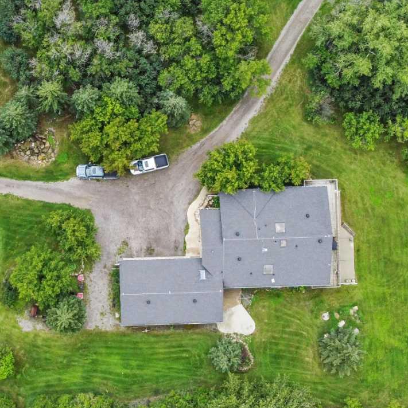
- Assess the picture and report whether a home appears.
Yes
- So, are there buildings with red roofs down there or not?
No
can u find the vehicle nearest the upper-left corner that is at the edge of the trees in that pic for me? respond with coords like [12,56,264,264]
[76,164,119,180]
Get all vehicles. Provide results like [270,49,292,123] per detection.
[130,153,170,174]
[76,164,119,180]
